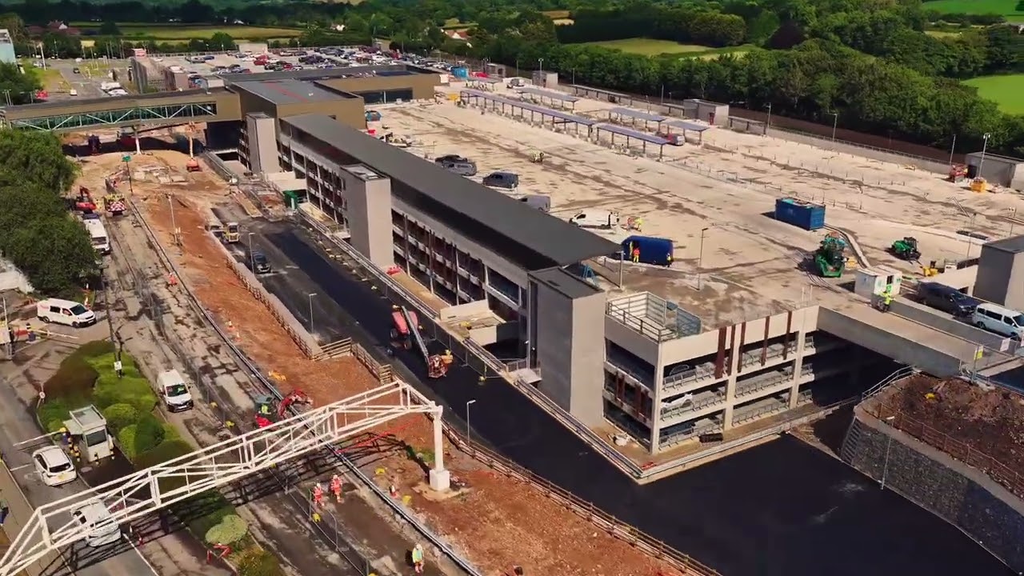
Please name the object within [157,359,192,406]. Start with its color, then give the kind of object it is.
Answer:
white van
